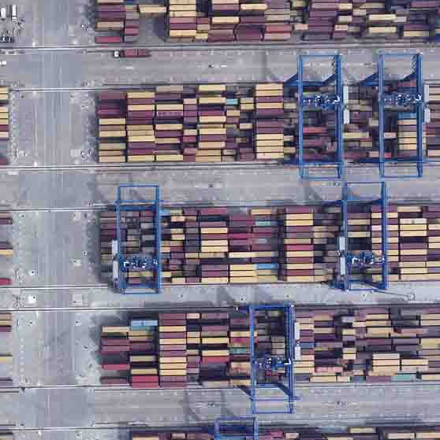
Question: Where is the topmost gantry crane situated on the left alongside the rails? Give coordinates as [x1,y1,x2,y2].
[110,185,163,294]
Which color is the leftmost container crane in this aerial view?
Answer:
blue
